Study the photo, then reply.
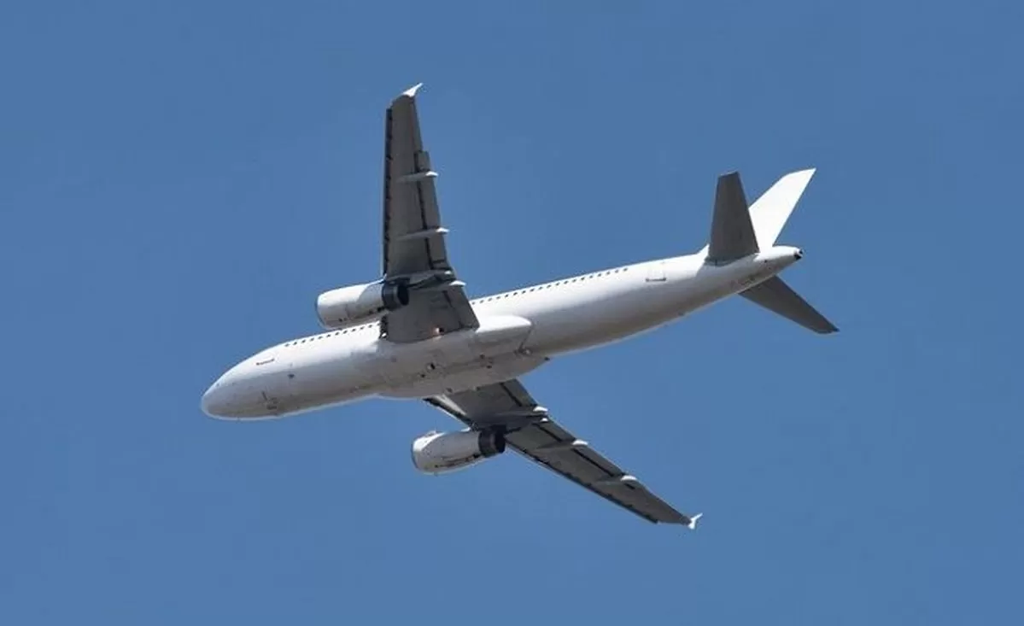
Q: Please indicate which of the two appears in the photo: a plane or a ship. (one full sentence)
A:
Looking from above, you can make out a plane.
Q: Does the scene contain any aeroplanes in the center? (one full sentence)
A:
Yes, an aeroplane can be seen in the center.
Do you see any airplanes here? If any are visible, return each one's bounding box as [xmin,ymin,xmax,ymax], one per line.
[203,81,838,529]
